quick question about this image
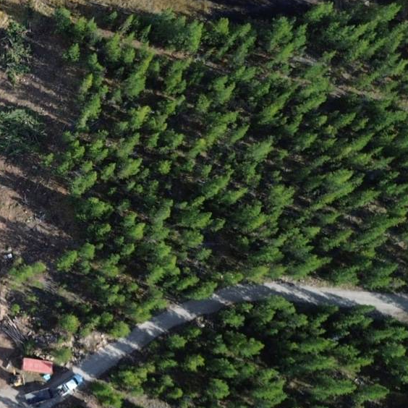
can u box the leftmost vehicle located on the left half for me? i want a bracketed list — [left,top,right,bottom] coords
[4,358,26,387]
